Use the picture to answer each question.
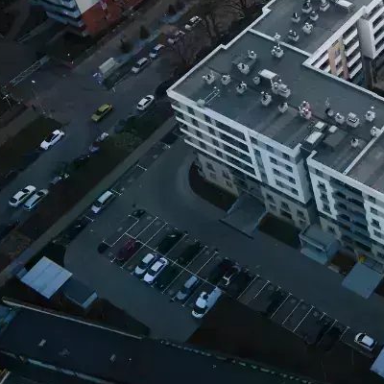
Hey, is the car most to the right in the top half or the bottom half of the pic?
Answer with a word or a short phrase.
bottom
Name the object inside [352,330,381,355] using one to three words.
car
